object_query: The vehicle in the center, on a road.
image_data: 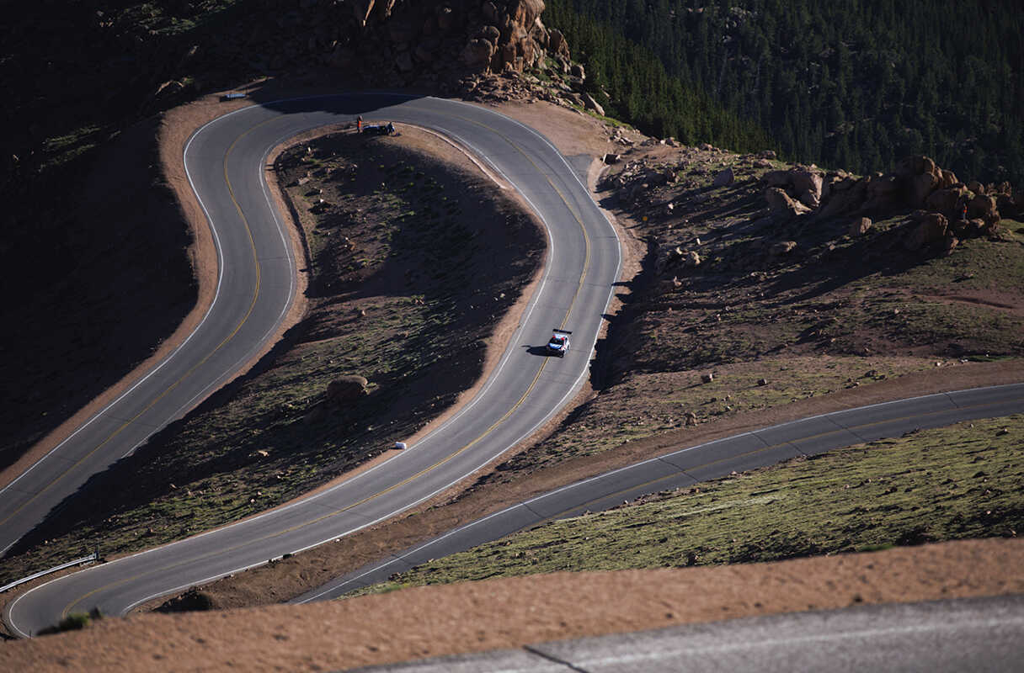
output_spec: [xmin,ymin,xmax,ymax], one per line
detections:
[544,325,575,361]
